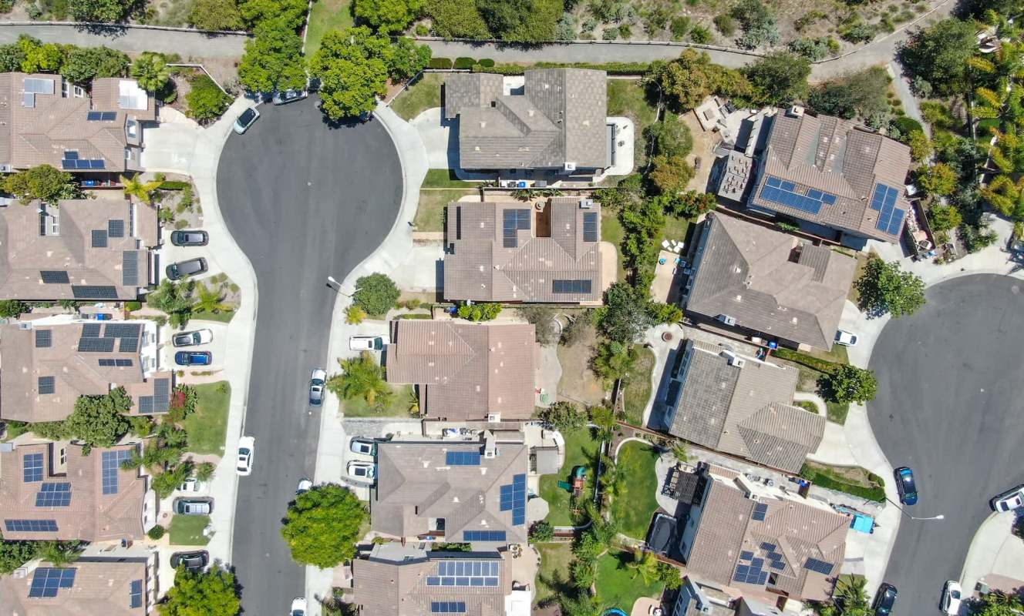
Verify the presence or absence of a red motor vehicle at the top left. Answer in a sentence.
No, no red motor vehicle appears at the top left.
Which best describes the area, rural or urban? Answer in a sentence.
From above, the setting appears urban.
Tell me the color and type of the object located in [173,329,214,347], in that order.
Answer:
white car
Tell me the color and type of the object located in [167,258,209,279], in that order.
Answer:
gray car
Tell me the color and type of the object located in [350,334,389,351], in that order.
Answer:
white car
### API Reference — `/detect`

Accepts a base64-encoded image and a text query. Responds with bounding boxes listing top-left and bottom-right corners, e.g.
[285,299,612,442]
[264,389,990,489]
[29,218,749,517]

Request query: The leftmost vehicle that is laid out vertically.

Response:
[237,436,255,474]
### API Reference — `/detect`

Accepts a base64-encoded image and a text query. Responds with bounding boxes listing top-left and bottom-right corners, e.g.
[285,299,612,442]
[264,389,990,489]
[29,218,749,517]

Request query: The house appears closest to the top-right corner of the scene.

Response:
[743,105,913,241]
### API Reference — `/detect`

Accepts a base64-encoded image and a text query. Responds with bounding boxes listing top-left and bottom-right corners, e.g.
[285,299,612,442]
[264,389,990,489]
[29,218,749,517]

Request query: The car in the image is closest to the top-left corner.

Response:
[233,103,262,137]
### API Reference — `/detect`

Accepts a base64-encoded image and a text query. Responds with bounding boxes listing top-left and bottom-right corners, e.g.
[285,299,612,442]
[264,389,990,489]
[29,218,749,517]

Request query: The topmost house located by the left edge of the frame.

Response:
[0,66,163,175]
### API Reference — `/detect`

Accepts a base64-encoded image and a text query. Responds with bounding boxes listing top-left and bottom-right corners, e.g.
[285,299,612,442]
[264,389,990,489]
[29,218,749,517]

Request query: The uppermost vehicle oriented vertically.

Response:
[309,368,327,405]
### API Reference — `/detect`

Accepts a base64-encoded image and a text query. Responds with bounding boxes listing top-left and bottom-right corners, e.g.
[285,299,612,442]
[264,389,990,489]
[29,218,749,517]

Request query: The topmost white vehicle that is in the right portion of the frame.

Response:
[832,329,861,347]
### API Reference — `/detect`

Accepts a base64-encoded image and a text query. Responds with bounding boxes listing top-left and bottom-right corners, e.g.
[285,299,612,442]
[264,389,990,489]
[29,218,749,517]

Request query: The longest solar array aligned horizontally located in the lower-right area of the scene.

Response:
[804,558,835,574]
